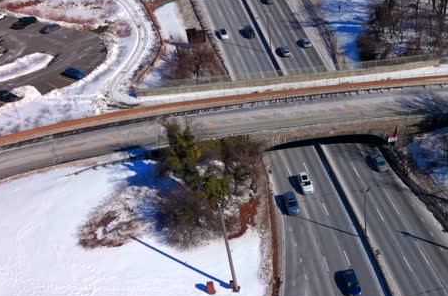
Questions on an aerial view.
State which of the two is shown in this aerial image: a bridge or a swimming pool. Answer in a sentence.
Looking from above, you can make out a bridge.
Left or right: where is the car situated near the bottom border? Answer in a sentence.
The car situated near the bottom border is on the right side of the image.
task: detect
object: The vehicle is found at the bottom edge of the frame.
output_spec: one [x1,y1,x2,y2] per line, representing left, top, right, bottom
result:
[339,268,362,296]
